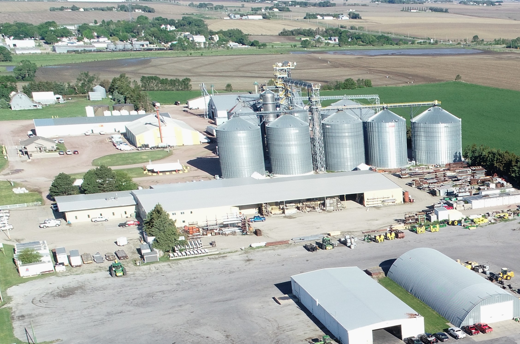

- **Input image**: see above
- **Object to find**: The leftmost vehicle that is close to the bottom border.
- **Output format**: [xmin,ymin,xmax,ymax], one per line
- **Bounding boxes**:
[310,332,334,344]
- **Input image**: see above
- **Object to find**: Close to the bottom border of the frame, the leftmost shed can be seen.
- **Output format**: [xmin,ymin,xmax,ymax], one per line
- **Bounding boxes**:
[291,265,425,344]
